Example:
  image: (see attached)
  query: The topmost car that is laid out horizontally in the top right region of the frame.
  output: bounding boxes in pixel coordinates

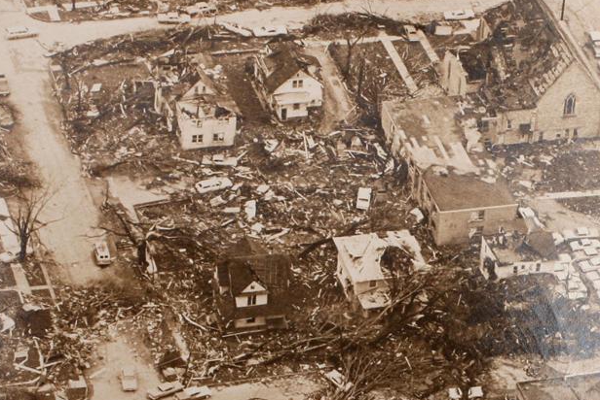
[441,8,478,21]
